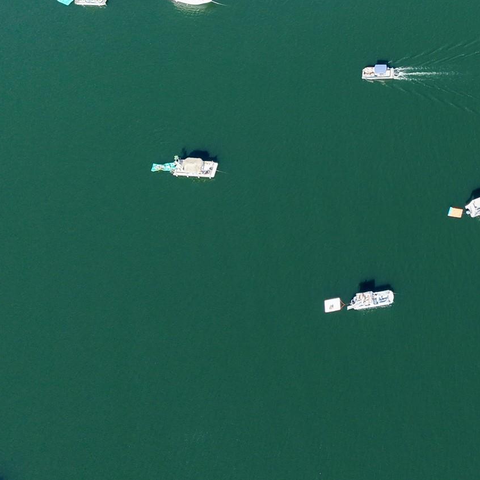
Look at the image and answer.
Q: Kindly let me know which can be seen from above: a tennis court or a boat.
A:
boat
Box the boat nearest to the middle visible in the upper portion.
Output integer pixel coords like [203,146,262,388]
[172,157,219,178]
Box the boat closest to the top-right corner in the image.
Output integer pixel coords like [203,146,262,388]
[362,65,397,79]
